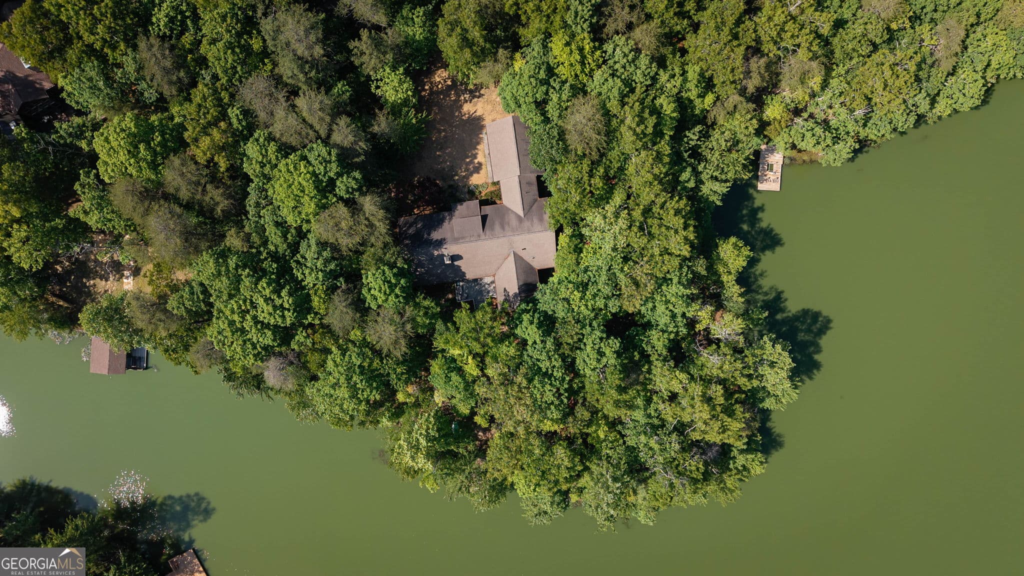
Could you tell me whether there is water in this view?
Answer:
Yes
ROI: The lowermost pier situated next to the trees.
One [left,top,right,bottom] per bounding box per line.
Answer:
[126,340,149,371]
